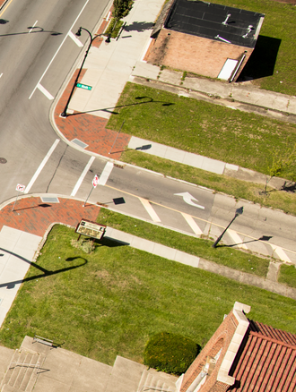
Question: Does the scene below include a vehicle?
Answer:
No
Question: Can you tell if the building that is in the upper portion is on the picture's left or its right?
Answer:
right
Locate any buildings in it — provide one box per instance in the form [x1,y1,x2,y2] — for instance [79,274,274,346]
[146,2,260,81]
[175,301,296,392]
